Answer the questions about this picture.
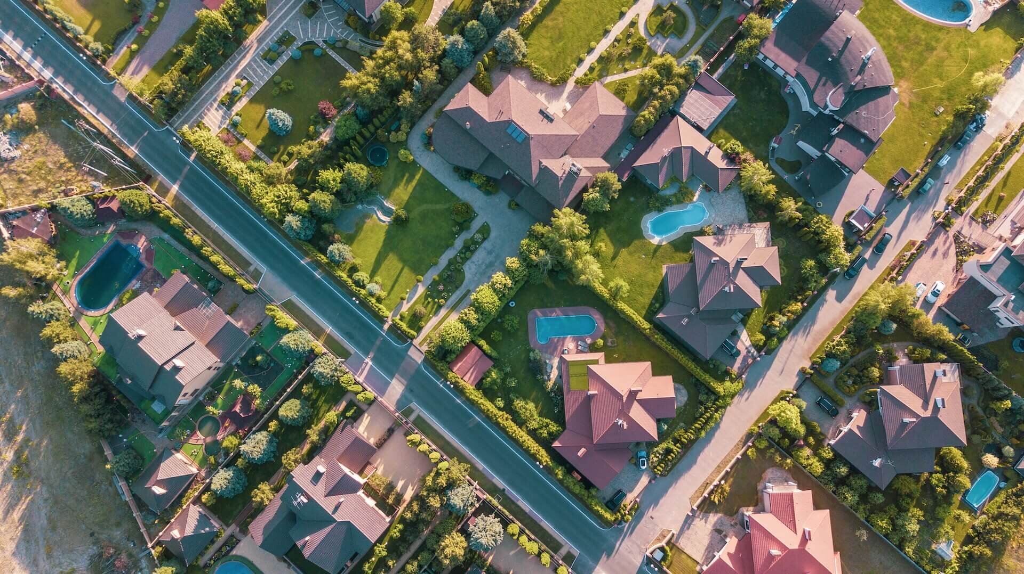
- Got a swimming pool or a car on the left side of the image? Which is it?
swimming pool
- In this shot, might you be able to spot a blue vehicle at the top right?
Yes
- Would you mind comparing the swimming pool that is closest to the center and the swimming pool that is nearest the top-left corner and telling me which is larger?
the swimming pool that is nearest the top-left corner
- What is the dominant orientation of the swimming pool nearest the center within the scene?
from side to side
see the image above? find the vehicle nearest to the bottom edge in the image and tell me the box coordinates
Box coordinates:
[605,487,629,511]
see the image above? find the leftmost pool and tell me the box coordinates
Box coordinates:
[72,238,148,312]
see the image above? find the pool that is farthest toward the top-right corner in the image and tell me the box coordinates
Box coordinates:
[894,0,980,26]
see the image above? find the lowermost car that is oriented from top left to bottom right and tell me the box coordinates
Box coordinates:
[815,395,841,420]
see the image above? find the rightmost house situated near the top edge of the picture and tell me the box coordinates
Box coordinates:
[755,0,898,198]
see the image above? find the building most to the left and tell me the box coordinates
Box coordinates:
[12,209,57,245]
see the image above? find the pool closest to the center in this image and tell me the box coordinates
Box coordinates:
[535,314,599,345]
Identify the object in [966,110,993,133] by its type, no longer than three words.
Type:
vehicle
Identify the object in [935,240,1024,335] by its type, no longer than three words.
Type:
house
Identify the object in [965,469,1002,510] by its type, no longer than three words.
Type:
swimming pool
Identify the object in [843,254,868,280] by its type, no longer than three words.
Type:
car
